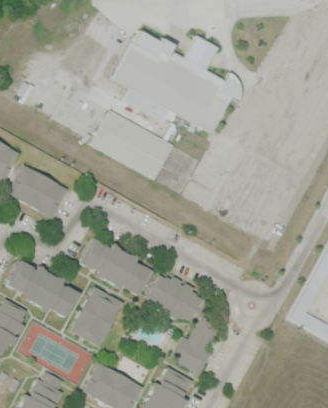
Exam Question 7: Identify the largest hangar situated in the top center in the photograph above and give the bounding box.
[112,30,244,132]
